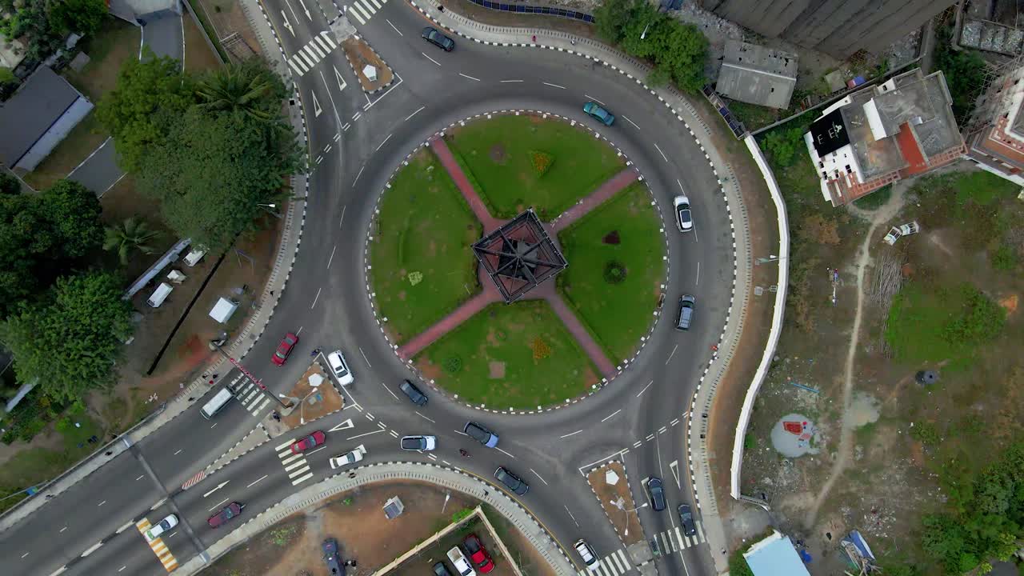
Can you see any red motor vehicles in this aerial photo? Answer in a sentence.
Yes, this view includes a red motor vehicle.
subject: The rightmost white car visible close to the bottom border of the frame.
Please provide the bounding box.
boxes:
[573,538,601,573]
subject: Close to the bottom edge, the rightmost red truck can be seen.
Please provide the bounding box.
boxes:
[463,532,495,575]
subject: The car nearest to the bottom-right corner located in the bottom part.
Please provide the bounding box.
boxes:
[676,503,696,539]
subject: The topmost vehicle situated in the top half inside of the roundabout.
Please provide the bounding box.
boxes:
[581,100,617,128]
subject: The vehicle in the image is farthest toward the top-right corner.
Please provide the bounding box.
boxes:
[672,195,692,232]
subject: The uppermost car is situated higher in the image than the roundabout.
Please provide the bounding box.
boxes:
[420,24,457,53]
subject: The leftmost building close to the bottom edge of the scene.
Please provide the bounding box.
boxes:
[737,527,811,576]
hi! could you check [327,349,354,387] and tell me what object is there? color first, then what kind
white car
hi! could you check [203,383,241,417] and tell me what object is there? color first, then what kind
white vehicle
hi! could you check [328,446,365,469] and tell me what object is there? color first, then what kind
white car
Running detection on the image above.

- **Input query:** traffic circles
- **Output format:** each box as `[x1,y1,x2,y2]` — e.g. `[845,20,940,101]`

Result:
[320,65,714,459]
